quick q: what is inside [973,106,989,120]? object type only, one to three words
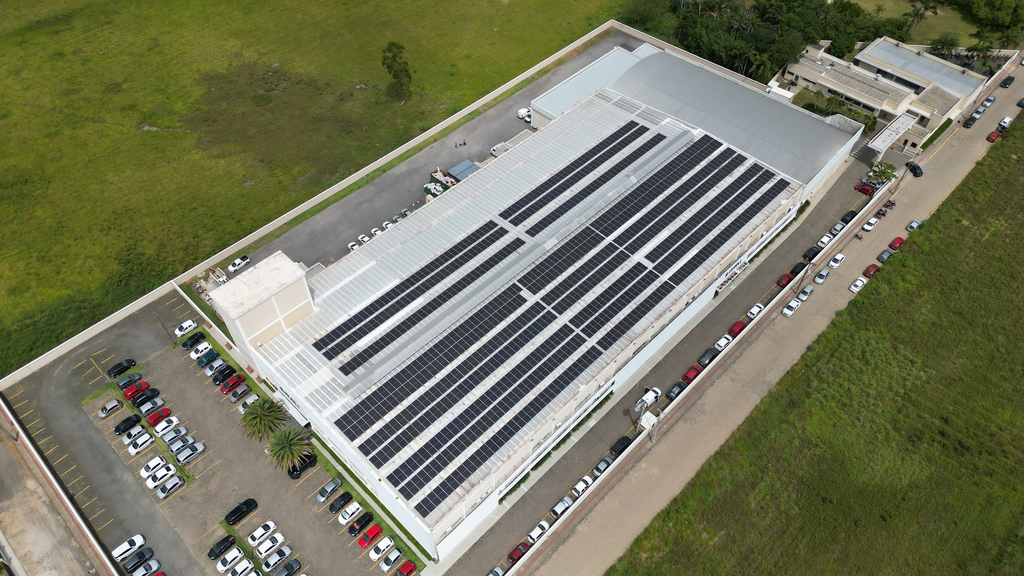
car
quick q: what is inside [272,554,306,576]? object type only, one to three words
truck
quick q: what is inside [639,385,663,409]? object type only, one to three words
truck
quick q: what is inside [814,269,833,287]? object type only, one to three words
car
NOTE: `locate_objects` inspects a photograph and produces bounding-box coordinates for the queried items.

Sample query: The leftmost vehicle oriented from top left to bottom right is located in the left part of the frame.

[209,265,230,285]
